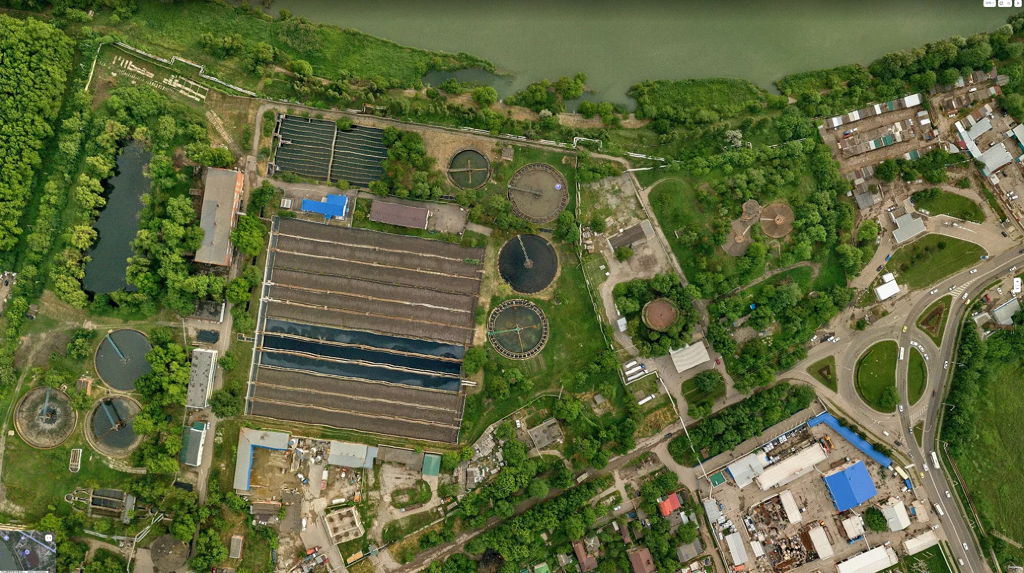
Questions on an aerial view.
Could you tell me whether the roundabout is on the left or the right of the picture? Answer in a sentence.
The roundabout appears in the right half of the scene.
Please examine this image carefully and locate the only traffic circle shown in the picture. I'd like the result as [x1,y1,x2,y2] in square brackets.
[807,296,952,447]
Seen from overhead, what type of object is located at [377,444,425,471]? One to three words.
shed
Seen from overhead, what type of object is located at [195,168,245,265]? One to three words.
building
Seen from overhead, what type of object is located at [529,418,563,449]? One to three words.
house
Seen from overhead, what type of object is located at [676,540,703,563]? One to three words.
house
